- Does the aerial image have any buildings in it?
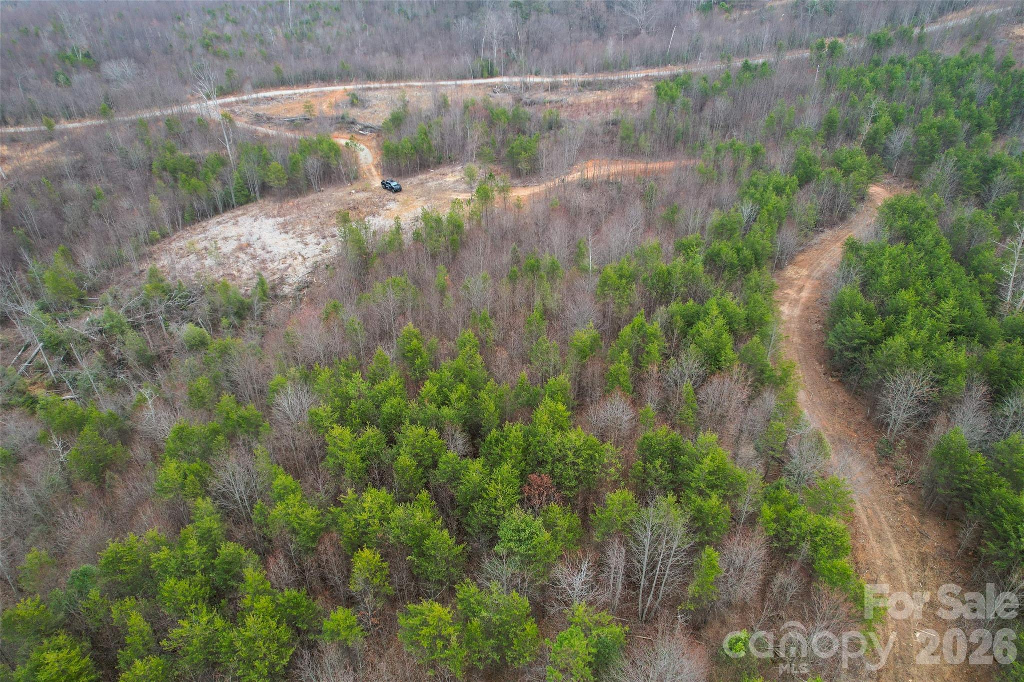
No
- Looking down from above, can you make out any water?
No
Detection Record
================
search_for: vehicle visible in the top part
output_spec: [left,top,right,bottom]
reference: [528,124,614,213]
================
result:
[382,180,402,193]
